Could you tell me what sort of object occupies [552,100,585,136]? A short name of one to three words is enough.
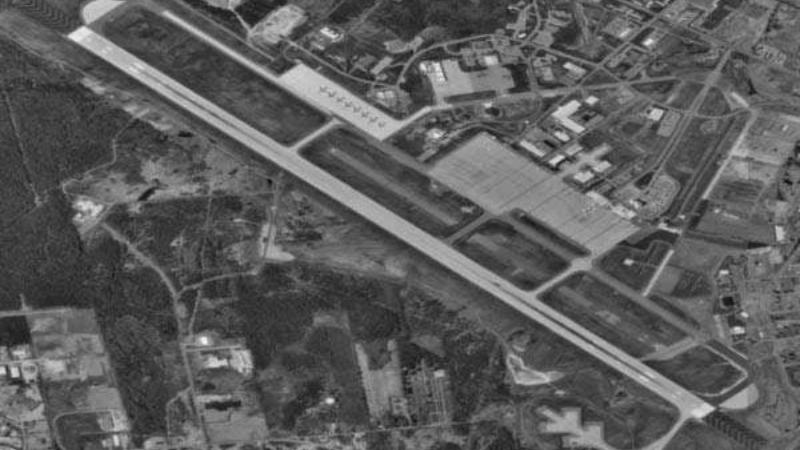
hangar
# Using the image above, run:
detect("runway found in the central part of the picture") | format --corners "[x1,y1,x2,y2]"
[69,26,716,420]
